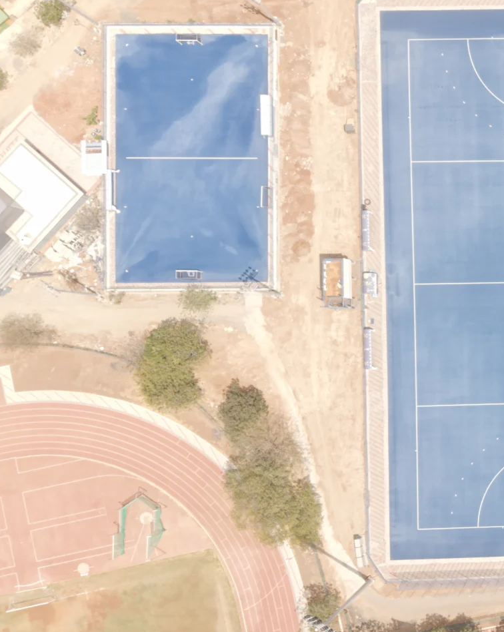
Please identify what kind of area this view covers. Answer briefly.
sports ground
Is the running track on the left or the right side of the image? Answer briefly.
left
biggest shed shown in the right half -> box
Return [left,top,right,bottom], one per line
[317,257,352,309]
